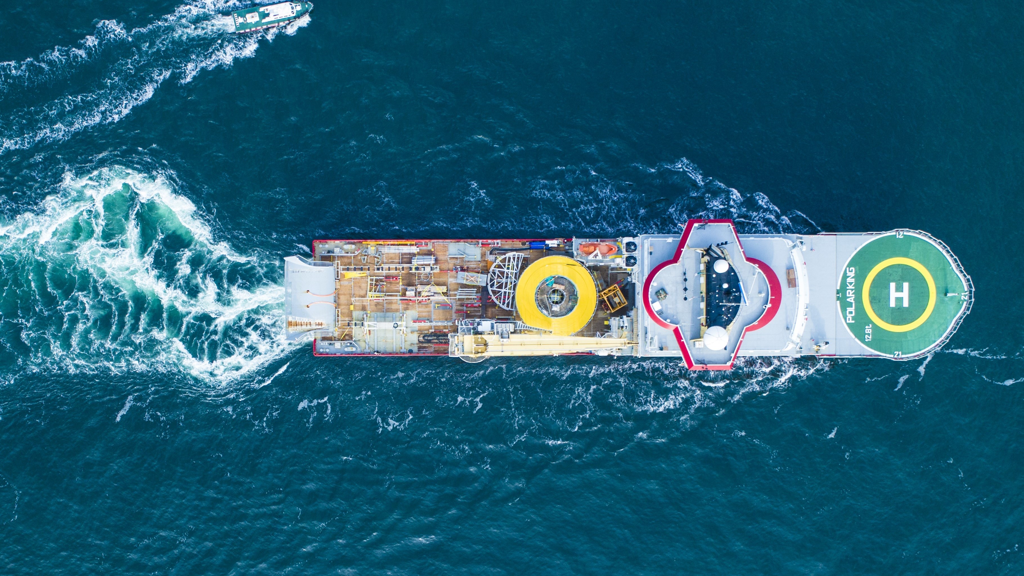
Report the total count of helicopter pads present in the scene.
1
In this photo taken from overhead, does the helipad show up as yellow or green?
green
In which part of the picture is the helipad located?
right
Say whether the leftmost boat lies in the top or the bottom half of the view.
top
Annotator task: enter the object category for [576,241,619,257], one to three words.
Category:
boat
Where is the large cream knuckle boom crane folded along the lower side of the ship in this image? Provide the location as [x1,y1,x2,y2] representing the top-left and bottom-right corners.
[448,318,639,363]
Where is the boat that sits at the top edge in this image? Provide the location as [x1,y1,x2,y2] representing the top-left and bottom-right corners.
[232,0,314,33]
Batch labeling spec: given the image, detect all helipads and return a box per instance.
[836,228,975,361]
